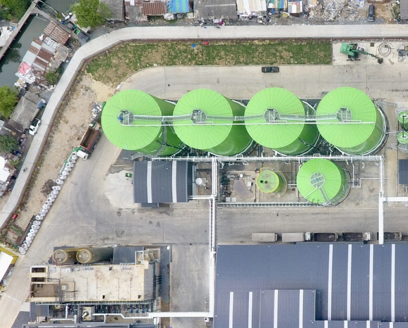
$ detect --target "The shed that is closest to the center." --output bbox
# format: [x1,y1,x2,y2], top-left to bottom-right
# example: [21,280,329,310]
[131,160,194,208]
